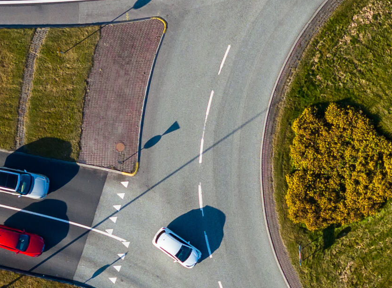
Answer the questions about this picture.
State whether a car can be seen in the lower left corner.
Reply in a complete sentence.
Yes, in the lower left corner there is a car.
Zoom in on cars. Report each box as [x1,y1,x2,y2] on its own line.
[0,225,46,256]
[152,227,202,268]
[0,167,50,199]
